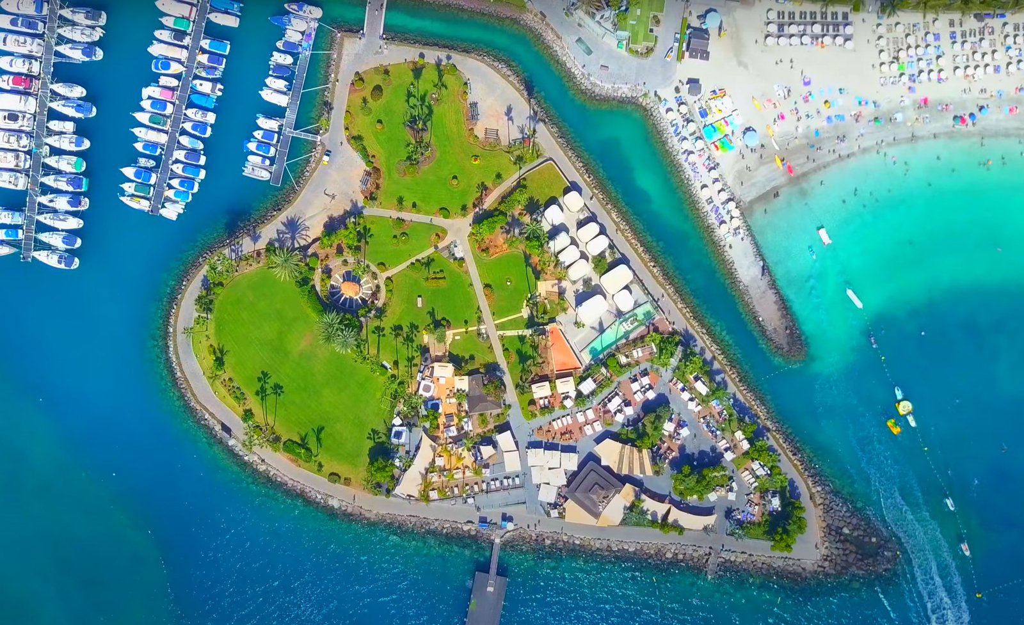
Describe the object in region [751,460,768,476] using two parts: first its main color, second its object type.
white umbrella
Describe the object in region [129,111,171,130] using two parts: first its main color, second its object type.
white boat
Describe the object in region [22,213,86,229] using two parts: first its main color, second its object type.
white boat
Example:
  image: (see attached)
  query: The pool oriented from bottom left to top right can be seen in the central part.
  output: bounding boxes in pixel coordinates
[581,302,657,363]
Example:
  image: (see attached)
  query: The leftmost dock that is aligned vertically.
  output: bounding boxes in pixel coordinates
[21,0,61,262]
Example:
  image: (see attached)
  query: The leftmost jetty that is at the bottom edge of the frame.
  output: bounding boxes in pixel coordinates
[466,538,508,625]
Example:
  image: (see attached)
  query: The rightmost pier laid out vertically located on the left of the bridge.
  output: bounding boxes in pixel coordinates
[270,17,318,186]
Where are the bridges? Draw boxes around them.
[363,0,385,38]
